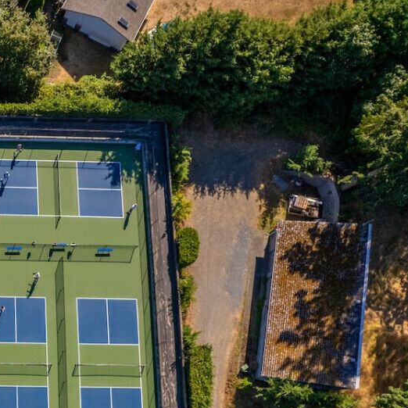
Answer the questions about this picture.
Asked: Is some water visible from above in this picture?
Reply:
No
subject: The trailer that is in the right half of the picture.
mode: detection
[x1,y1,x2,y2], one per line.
[277,195,321,220]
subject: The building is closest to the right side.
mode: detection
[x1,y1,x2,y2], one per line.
[250,222,369,388]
